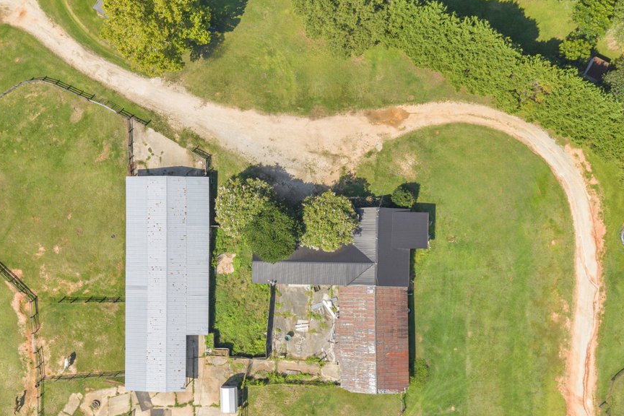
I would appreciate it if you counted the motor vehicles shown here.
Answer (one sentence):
I count no motor vehicles.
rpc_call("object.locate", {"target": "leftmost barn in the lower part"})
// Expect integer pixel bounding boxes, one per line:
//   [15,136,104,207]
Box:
[125,176,210,391]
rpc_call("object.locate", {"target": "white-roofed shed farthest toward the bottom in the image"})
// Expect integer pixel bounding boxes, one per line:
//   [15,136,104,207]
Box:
[221,385,238,413]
